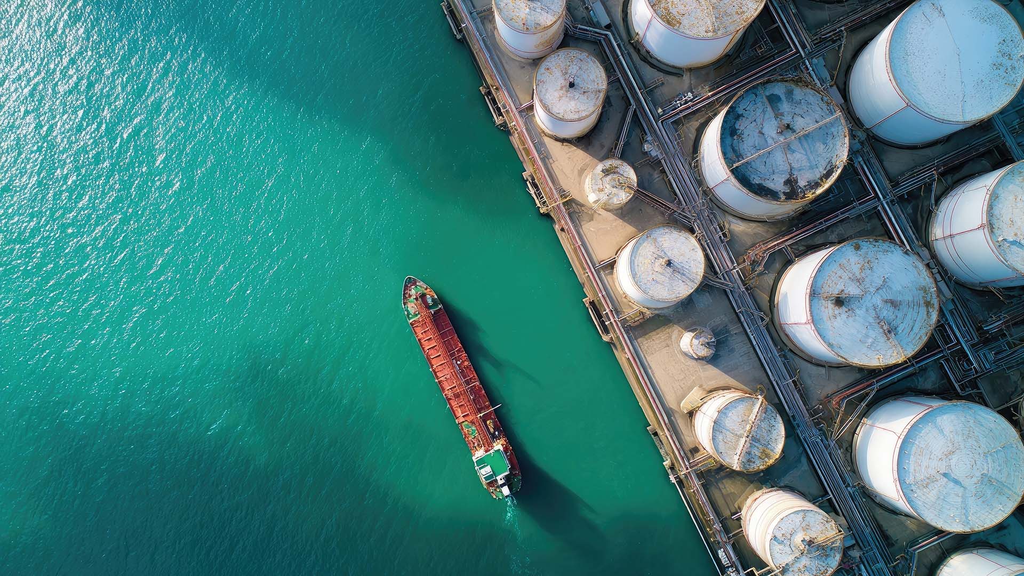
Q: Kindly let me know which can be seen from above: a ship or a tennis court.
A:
ship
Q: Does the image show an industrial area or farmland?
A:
industrial area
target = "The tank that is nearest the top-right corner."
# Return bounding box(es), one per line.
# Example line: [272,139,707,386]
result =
[844,0,1024,155]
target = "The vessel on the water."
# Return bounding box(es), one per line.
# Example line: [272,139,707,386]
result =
[401,276,524,501]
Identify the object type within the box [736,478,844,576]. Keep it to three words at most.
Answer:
storage tank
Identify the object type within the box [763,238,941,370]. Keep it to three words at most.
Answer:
storage tank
